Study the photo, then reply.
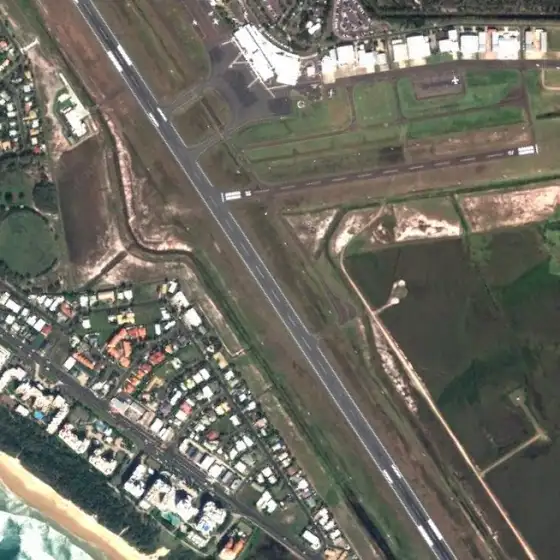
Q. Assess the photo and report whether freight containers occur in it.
No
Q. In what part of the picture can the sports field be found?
left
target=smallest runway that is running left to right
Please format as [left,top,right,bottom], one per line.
[221,145,539,201]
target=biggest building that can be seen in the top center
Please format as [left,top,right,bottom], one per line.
[234,25,299,85]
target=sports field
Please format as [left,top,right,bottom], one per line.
[0,208,58,275]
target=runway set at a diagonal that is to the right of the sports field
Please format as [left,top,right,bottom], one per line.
[73,0,457,560]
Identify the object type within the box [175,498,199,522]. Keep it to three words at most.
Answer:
building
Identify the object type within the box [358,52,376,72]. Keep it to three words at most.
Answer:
hangar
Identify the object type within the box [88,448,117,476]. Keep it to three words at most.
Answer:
building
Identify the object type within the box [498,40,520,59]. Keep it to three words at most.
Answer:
hangar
